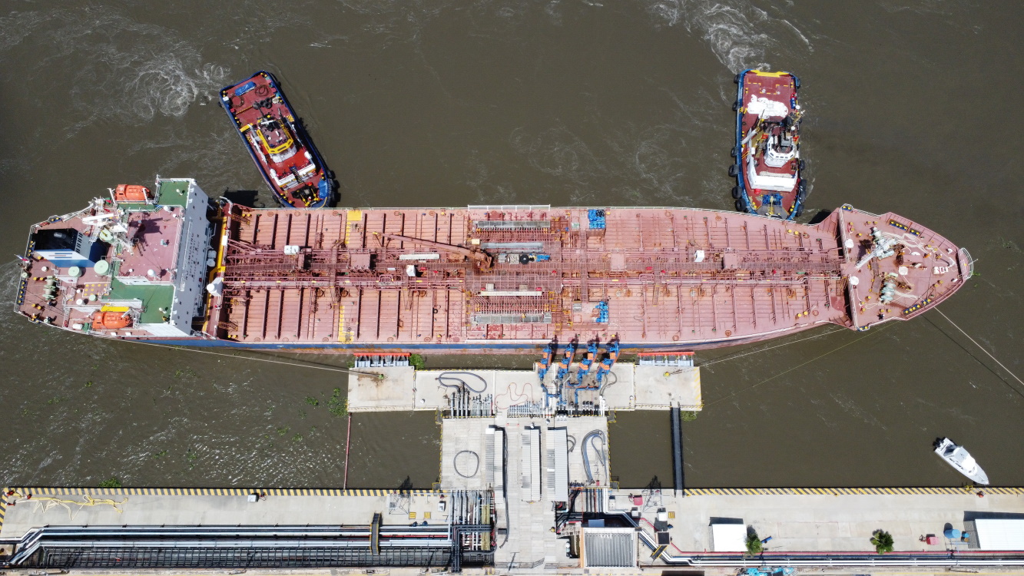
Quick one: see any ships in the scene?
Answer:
Yes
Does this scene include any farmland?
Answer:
No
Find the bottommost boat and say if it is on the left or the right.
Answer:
right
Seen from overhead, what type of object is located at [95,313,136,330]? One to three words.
boat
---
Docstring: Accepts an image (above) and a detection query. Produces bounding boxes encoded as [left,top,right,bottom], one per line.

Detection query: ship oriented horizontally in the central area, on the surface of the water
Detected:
[11,178,979,353]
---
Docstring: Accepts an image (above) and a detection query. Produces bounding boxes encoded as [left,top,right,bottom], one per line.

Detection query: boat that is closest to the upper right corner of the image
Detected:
[729,69,808,224]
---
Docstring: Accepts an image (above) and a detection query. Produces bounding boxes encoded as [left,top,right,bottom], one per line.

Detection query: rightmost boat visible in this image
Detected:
[930,436,989,487]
